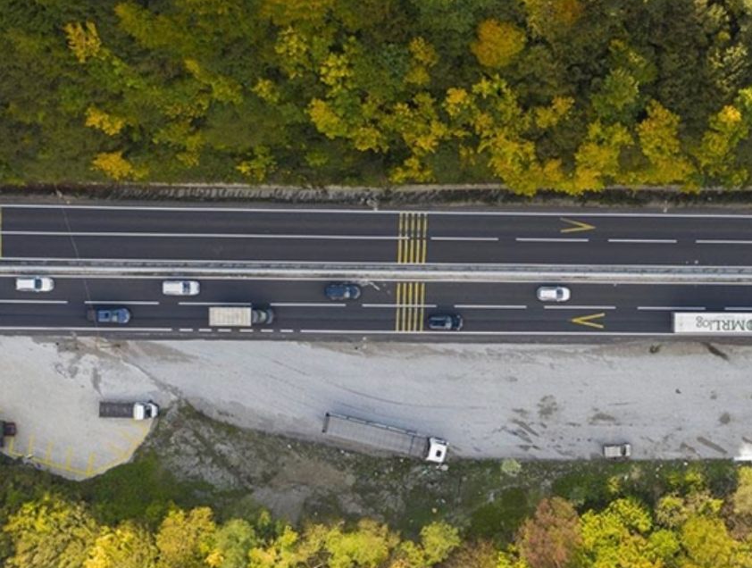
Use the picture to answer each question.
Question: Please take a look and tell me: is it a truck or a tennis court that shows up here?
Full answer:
I can see a truck in this picture.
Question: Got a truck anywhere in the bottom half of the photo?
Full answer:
Yes, there is a truck in the bottom half of the photo.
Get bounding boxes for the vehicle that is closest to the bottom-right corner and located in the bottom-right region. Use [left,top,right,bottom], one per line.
[602,442,629,458]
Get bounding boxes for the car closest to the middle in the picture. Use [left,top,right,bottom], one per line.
[325,283,360,300]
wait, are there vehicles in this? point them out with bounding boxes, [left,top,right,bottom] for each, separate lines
[602,442,629,458]
[163,280,200,297]
[99,399,162,421]
[87,307,131,325]
[322,413,449,465]
[675,312,752,334]
[325,283,360,300]
[19,277,55,293]
[537,286,570,302]
[427,315,462,331]
[209,306,277,326]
